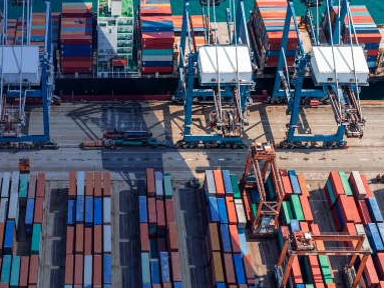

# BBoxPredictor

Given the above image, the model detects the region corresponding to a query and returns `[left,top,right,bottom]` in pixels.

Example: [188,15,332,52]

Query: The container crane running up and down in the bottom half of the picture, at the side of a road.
[245,148,283,233]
